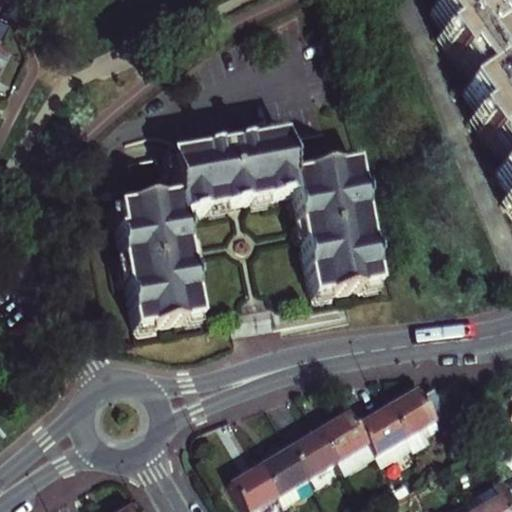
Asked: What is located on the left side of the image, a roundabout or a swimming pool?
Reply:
roundabout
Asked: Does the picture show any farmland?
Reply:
No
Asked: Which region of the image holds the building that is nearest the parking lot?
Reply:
center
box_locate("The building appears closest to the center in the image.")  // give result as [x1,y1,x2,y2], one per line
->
[114,124,390,341]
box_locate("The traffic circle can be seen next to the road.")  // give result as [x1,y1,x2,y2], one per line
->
[68,368,176,476]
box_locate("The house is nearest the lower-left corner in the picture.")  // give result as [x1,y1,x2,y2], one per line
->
[226,460,284,512]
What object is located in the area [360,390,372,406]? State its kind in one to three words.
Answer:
vehicle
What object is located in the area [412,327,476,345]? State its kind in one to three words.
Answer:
vehicle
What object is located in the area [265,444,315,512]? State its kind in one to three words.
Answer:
house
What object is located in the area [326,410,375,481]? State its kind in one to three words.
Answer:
house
